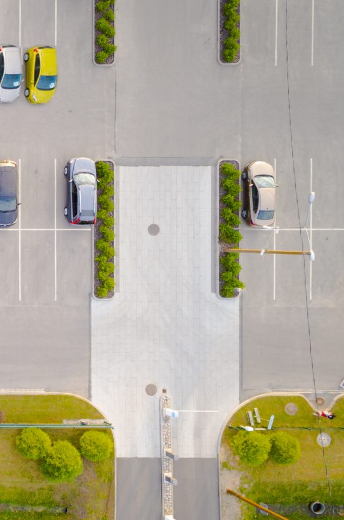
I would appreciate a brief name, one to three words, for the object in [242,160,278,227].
car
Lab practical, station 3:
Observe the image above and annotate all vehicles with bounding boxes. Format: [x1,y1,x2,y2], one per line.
[0,160,21,227]
[242,160,278,227]
[65,158,99,225]
[25,47,56,104]
[0,46,21,103]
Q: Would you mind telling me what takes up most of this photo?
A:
paved ground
